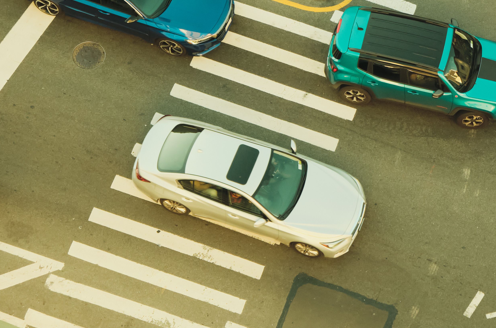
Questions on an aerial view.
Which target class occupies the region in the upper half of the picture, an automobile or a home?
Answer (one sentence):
There is an automobile in the upper half of the picture.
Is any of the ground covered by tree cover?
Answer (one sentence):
No, there is no tree cover in the image.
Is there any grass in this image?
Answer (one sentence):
No, there is no grass in the image.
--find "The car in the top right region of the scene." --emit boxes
[322,2,496,130]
